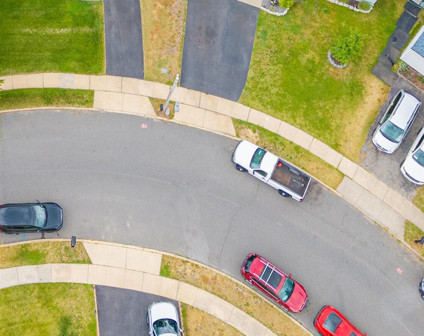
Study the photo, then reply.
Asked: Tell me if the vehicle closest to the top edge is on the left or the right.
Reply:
right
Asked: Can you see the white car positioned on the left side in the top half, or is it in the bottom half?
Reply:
bottom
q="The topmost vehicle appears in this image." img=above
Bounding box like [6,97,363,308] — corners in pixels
[372,87,424,156]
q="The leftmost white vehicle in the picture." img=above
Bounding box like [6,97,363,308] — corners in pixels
[146,297,182,336]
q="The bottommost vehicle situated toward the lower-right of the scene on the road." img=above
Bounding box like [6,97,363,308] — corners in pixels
[307,296,373,336]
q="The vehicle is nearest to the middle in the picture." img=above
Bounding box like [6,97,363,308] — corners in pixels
[229,143,311,203]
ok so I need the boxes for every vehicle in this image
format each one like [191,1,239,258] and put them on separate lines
[399,128,424,189]
[307,296,373,336]
[372,87,424,156]
[146,297,182,336]
[229,143,311,203]
[235,248,310,317]
[0,199,62,233]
